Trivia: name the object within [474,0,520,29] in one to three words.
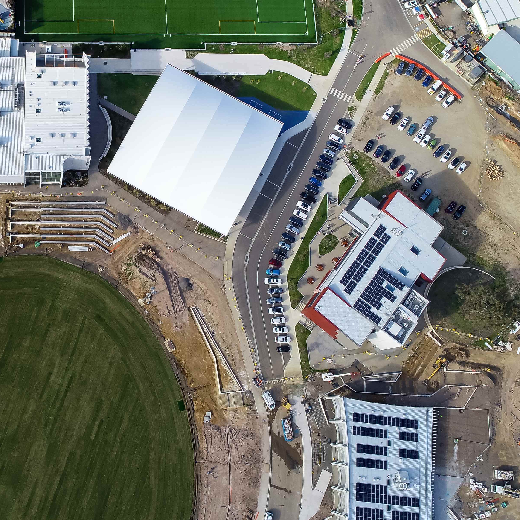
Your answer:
building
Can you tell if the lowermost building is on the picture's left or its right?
right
